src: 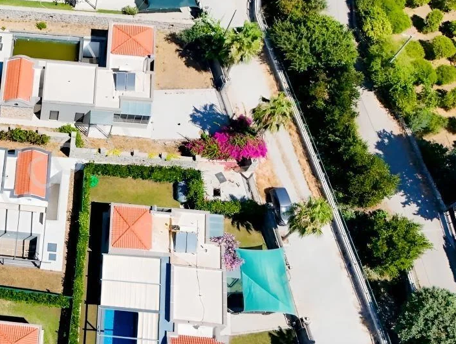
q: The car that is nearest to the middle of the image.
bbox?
[262,187,293,231]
